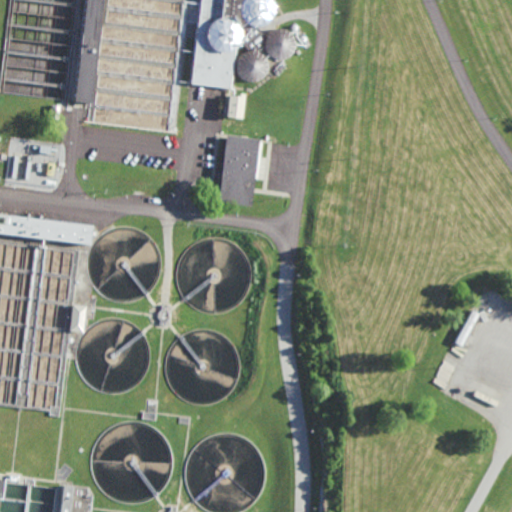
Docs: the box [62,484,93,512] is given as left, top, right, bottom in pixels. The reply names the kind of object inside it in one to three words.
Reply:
building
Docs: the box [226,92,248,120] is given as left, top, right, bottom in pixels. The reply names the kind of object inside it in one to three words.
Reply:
shed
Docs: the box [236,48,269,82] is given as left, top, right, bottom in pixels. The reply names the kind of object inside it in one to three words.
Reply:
storage tank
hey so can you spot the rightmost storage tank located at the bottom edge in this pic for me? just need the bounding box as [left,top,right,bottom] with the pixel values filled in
[184,433,266,512]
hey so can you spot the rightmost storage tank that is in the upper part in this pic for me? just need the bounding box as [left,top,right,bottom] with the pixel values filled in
[264,28,298,61]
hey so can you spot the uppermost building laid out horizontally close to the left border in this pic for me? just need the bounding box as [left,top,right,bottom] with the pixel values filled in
[0,214,94,246]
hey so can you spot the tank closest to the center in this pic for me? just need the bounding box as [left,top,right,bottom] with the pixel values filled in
[176,237,252,313]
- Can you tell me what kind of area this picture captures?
industrial area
